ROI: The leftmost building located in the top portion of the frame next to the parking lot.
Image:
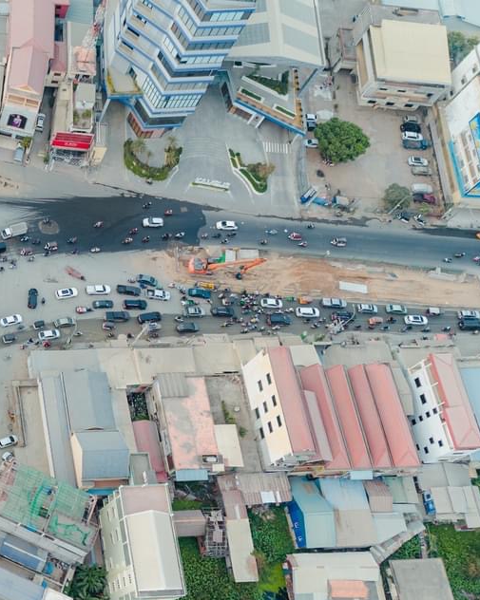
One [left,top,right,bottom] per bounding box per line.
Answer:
[96,0,248,138]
